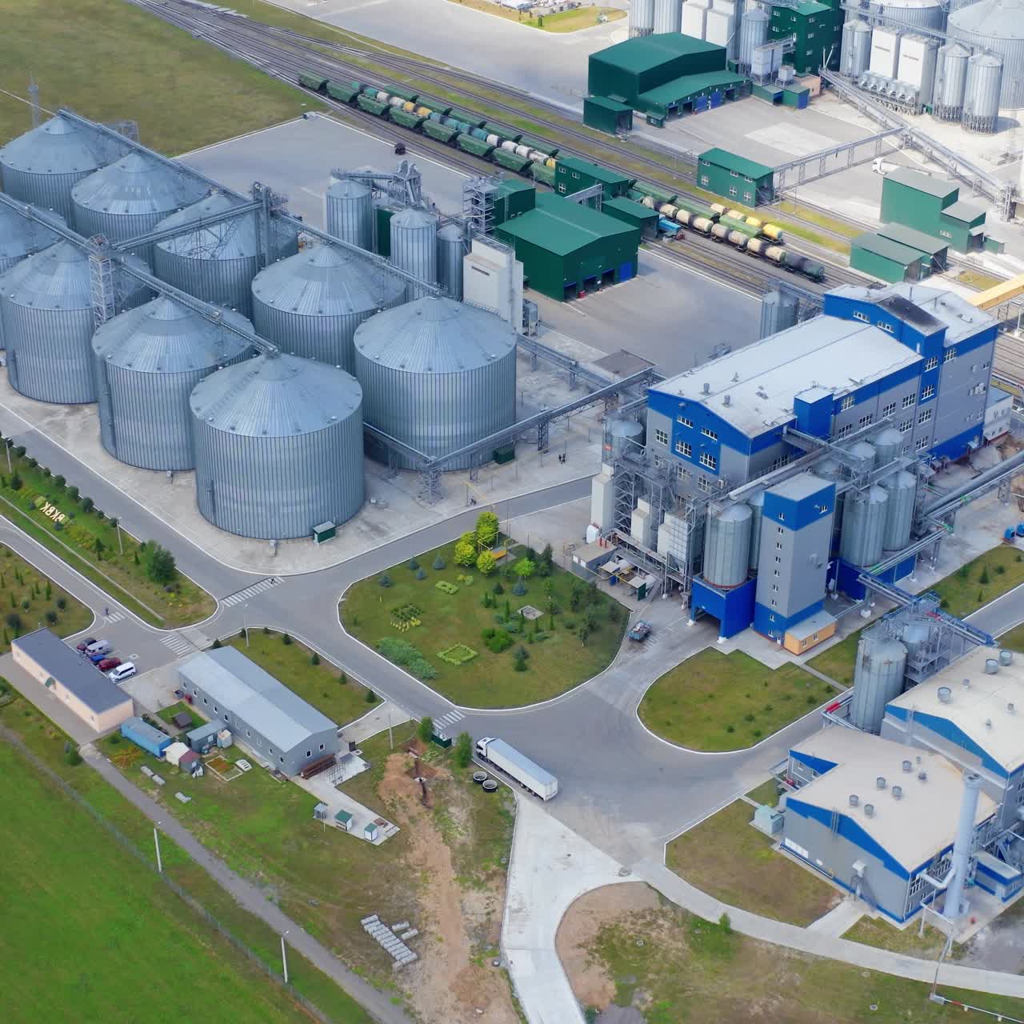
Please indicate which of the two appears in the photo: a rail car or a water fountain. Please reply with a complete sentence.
The image shows a rail car.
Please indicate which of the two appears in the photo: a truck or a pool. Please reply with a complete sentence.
Visible in the photo is a truck.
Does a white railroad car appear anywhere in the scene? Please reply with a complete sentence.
Yes, a white railroad car can be made out from above.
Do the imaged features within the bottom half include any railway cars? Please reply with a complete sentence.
No, the scene shows no railway car within the bottom half.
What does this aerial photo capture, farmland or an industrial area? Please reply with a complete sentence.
This looks like an industrial area.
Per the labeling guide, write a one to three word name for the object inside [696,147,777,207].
building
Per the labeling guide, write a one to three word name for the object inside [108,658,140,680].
vehicle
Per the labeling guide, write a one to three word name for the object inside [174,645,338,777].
building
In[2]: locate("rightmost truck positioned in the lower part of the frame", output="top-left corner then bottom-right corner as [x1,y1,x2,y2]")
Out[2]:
[627,617,656,640]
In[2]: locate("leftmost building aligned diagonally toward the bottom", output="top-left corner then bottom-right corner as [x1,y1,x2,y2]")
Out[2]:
[9,624,135,731]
